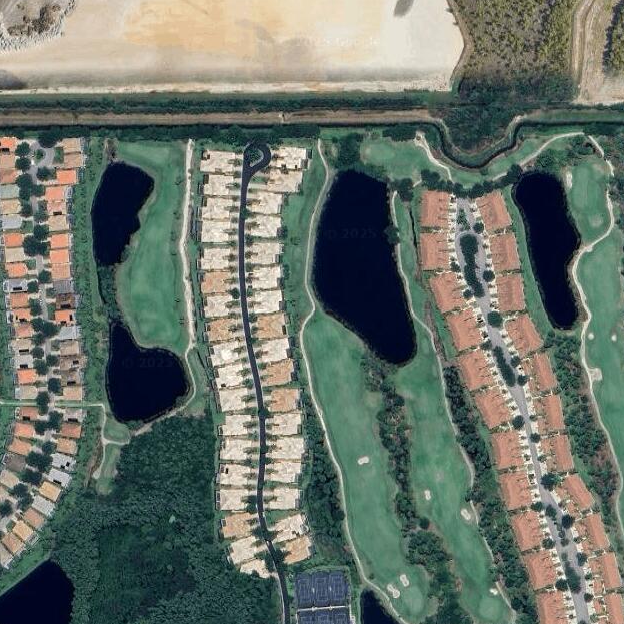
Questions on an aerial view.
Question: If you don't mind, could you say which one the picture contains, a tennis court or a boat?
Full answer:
Of the two, only a tennis court appears.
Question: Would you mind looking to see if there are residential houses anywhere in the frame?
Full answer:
Yes, the photo shows a residential house.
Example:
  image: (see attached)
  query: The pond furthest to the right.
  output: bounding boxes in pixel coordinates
[514,172,579,328]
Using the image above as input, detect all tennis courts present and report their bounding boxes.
[299,610,315,624]
[331,606,350,624]
[294,572,313,608]
[312,570,332,607]
[329,569,349,605]
[314,608,332,624]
